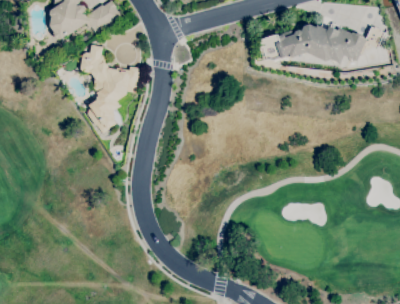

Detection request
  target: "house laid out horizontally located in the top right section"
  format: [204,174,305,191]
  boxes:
[261,24,365,62]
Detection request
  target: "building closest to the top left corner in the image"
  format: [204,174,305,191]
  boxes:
[48,0,119,36]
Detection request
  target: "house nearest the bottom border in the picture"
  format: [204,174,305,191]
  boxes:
[80,44,138,126]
